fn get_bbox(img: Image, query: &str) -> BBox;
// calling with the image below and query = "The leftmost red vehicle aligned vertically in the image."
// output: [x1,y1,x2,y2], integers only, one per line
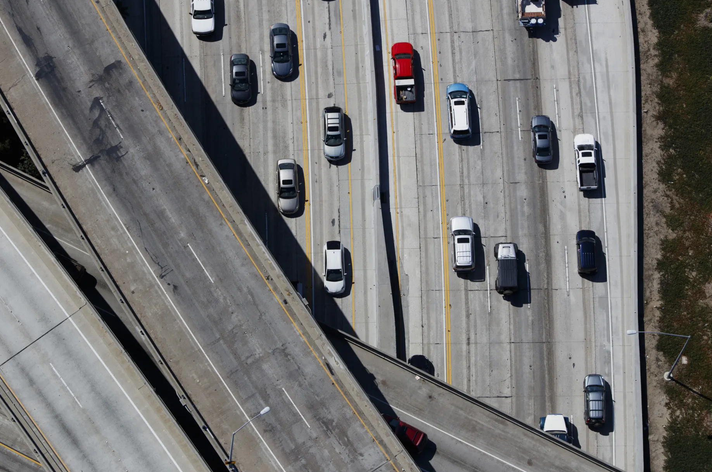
[390,42,418,106]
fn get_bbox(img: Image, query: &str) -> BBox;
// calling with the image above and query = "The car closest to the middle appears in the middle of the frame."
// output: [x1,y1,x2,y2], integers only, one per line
[322,242,348,295]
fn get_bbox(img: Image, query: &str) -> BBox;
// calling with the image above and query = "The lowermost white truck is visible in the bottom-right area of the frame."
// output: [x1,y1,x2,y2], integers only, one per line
[541,413,573,444]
